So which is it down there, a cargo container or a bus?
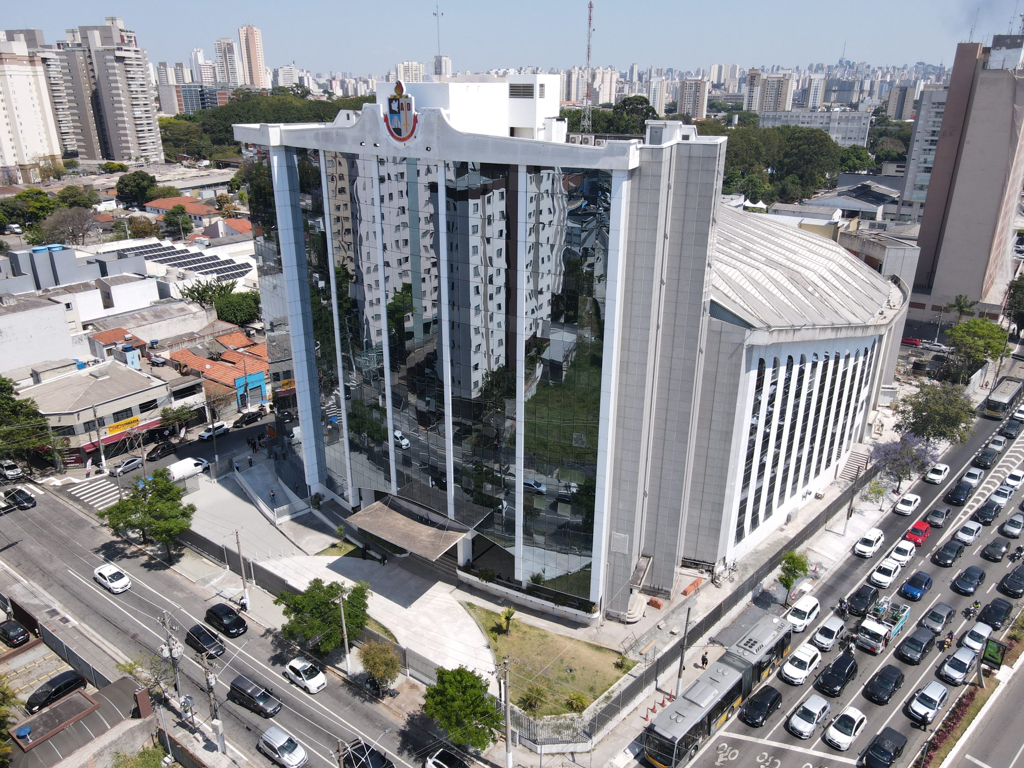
bus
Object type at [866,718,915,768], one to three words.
vehicle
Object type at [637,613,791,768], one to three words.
bus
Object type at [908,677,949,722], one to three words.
car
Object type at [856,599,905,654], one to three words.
truck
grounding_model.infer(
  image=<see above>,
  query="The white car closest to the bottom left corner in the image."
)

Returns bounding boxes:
[90,565,129,595]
